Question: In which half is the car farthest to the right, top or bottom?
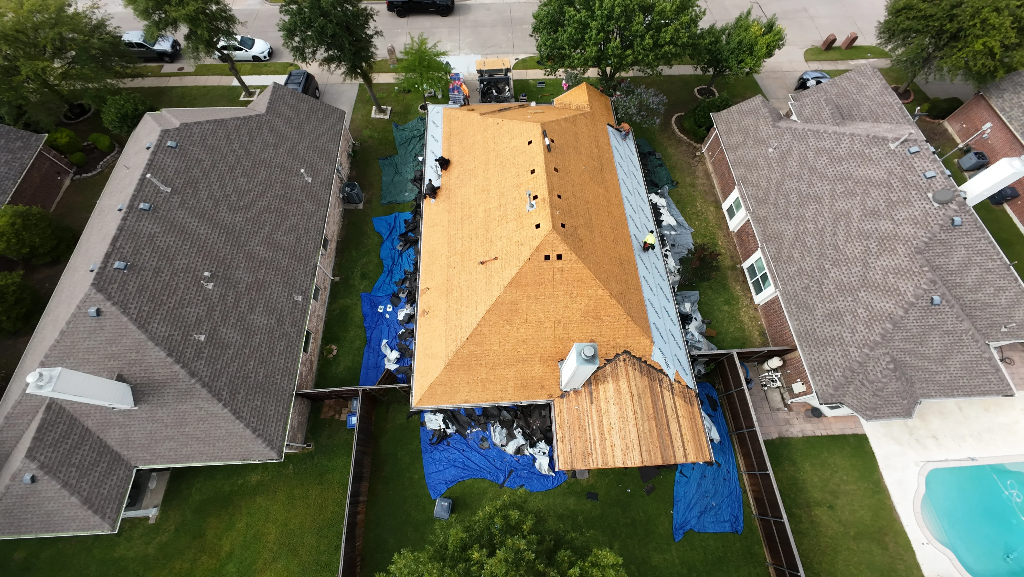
top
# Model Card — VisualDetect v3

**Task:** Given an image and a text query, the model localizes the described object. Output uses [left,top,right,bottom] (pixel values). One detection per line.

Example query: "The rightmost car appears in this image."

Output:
[792,67,830,91]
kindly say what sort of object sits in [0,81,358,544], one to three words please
house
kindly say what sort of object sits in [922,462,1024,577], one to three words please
swimming pool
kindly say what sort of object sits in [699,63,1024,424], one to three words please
house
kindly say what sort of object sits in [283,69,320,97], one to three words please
car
